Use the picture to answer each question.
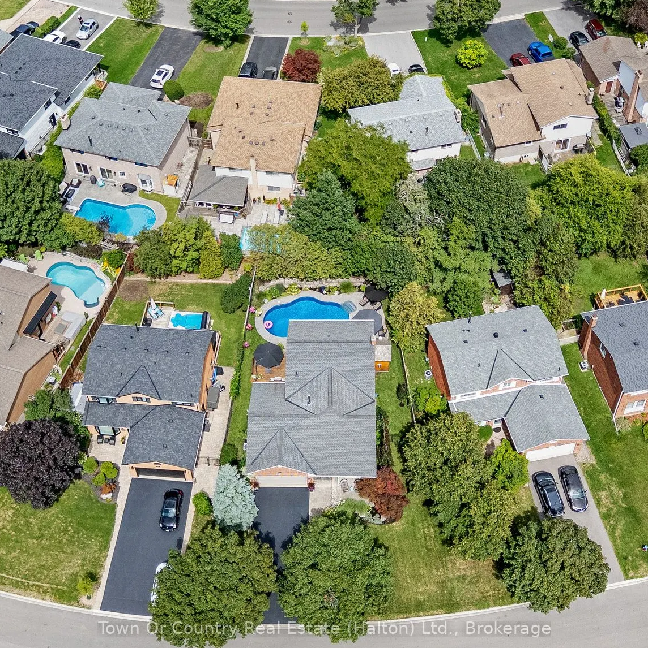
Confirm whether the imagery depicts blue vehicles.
Yes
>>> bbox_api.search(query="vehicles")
[530,474,566,515]
[509,52,530,64]
[64,38,87,50]
[566,31,587,55]
[8,18,40,35]
[408,64,425,77]
[526,39,561,58]
[76,17,101,39]
[386,61,405,81]
[159,490,186,531]
[582,12,607,39]
[558,468,587,511]
[239,59,257,77]
[148,65,178,87]
[261,62,279,80]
